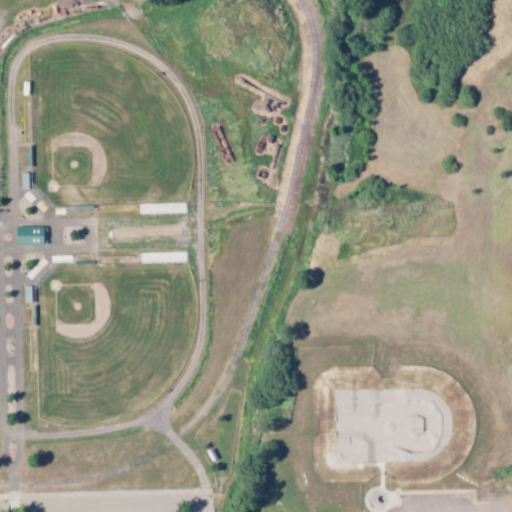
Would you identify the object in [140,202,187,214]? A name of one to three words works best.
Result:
shed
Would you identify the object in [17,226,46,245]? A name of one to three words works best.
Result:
building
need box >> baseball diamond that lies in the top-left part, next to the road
[31,44,192,207]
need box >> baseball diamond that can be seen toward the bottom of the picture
[36,264,198,426]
